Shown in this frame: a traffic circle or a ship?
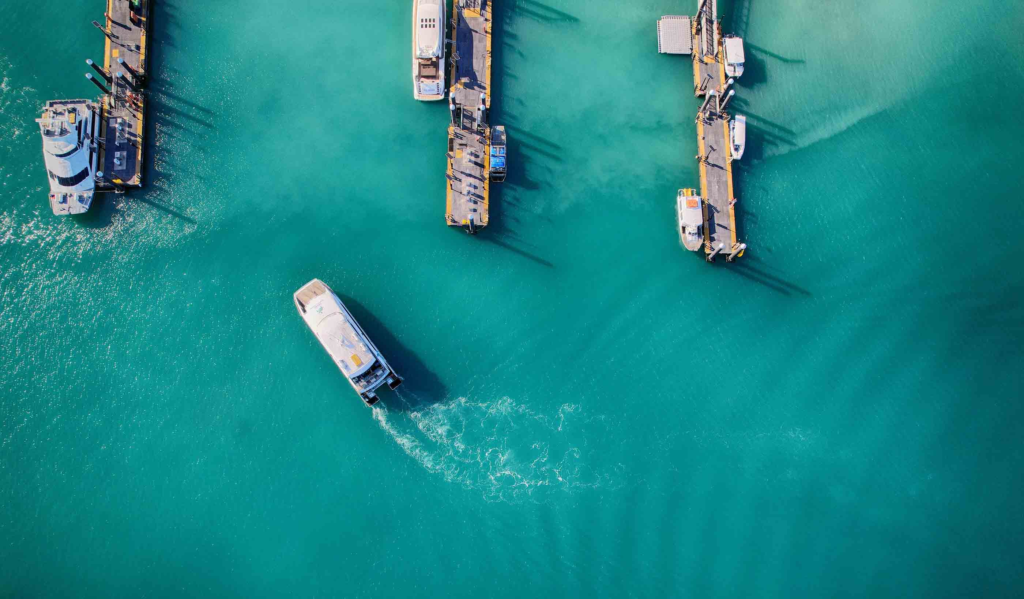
ship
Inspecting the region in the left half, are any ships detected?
Yes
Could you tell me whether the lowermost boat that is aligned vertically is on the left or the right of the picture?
right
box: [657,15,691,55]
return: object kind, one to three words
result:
pier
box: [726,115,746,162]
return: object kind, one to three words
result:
boat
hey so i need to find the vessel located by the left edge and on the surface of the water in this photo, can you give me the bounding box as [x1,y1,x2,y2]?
[35,99,101,216]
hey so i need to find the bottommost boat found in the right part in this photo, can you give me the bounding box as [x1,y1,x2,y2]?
[677,188,704,252]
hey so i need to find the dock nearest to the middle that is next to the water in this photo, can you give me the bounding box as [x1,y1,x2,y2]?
[446,127,491,228]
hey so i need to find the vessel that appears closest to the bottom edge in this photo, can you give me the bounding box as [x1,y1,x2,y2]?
[294,279,403,406]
